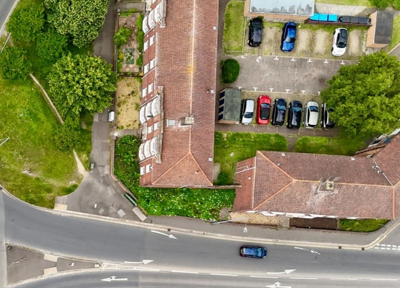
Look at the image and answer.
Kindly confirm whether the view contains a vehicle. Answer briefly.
Yes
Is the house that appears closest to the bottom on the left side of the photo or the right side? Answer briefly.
right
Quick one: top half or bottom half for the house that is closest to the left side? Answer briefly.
top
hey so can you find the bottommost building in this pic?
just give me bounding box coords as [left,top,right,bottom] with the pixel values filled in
[235,108,400,228]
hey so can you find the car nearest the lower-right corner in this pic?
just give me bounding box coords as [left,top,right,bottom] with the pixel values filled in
[238,244,267,260]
